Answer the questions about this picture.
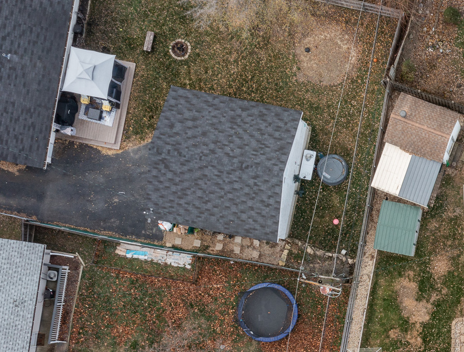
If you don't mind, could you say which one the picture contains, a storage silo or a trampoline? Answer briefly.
trampoline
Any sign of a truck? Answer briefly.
No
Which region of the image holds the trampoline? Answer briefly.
bottom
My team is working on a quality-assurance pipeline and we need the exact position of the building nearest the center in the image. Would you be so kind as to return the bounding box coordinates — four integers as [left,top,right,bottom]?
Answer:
[147,87,312,242]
